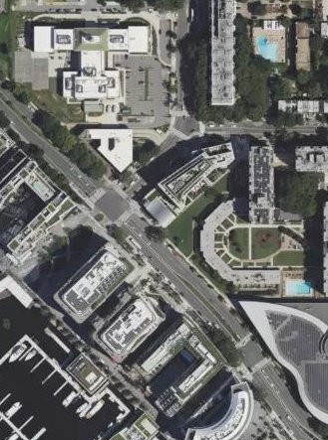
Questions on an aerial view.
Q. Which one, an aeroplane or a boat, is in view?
boat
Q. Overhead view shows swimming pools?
Yes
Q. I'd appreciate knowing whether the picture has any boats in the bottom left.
Yes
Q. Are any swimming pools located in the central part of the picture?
No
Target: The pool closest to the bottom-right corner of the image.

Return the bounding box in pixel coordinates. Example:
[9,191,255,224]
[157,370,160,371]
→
[281,272,314,297]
